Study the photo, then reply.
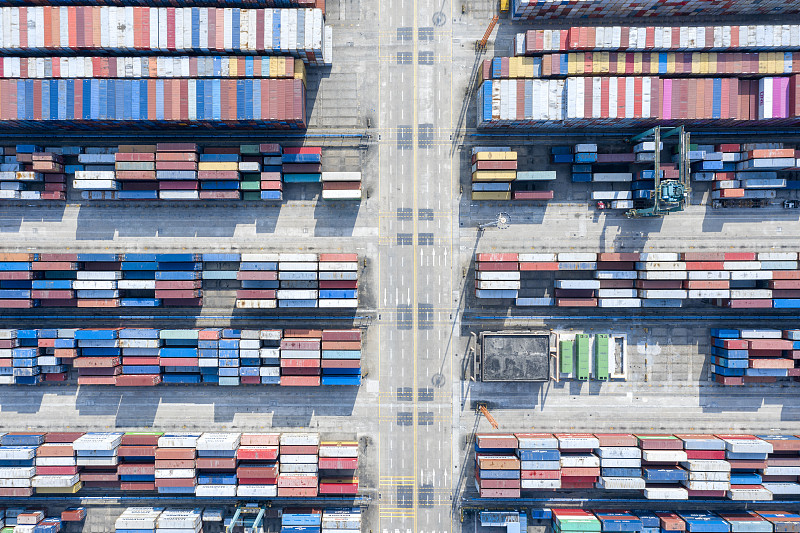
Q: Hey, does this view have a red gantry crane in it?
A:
No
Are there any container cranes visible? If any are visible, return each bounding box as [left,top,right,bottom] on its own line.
[223,508,269,533]
[624,125,691,215]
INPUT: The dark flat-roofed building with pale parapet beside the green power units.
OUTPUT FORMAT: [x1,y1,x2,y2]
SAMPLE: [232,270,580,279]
[477,327,548,382]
